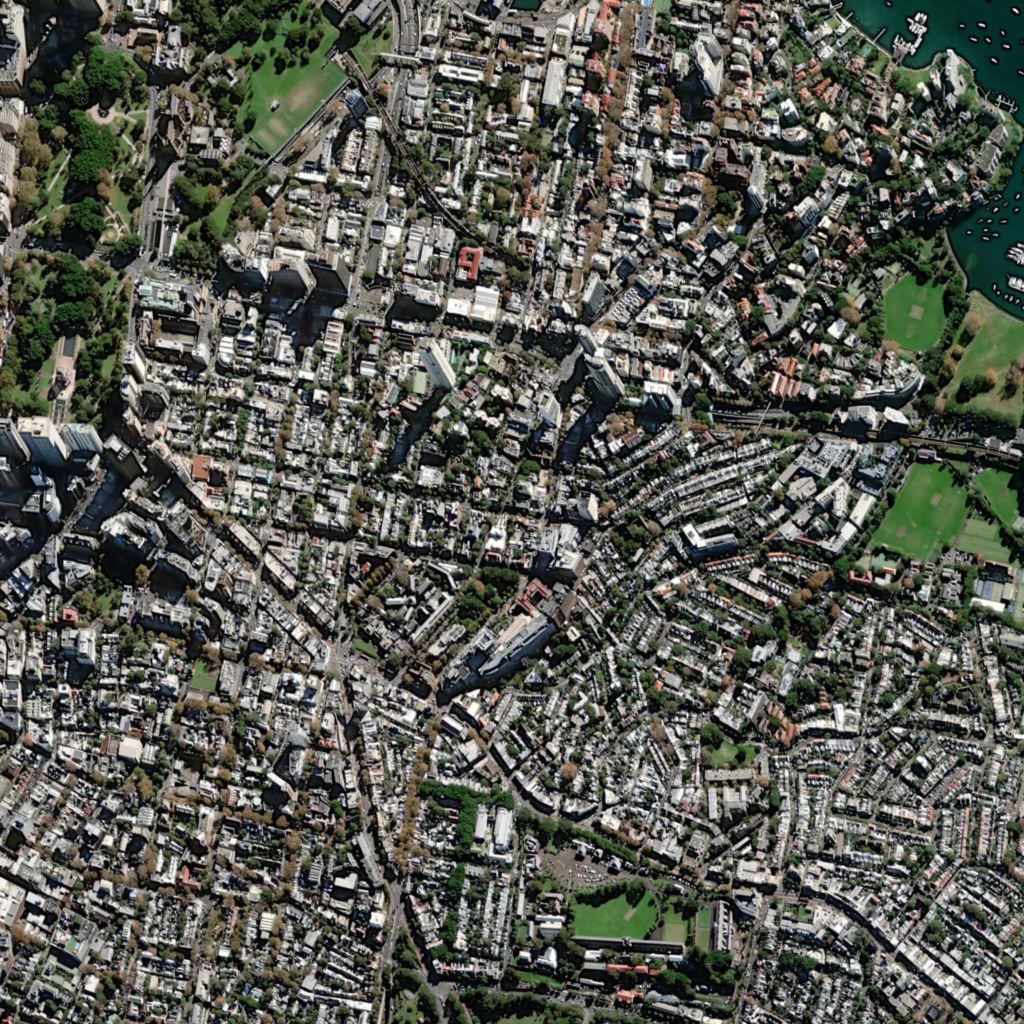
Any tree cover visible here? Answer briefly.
Yes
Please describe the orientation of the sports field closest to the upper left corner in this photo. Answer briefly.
at an angle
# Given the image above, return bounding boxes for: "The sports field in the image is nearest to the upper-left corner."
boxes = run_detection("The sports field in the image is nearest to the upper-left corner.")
[253,50,347,154]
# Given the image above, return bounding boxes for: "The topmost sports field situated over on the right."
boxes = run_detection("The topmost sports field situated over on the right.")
[883,273,947,352]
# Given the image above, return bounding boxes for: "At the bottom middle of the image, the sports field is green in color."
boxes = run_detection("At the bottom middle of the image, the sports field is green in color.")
[575,886,659,939]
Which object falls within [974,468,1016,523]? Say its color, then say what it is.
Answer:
green sports field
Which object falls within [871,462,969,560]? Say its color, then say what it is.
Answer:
green sports field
